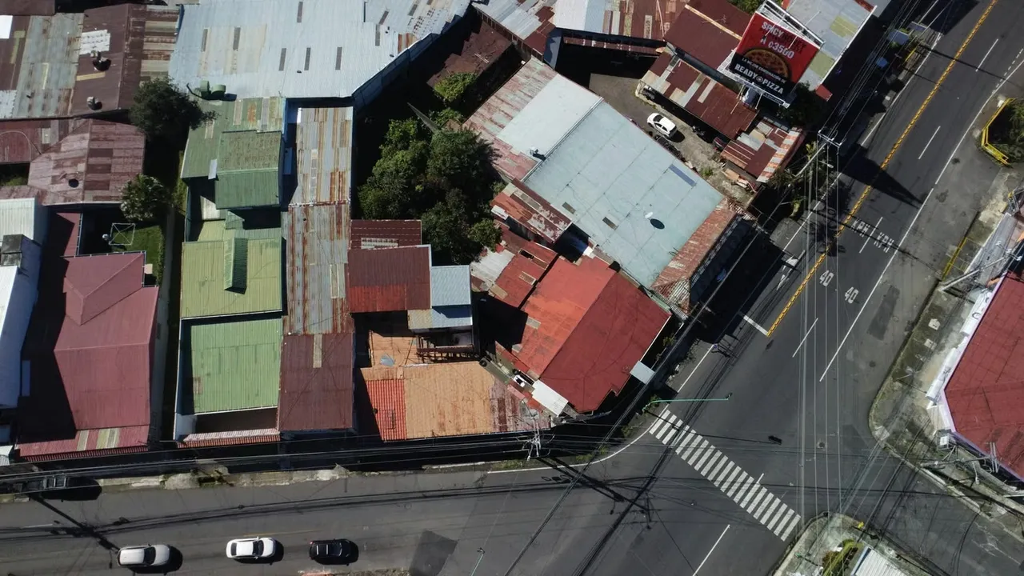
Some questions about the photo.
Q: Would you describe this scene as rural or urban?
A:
urban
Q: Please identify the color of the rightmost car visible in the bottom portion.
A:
black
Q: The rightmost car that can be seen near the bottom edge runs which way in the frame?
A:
from left to right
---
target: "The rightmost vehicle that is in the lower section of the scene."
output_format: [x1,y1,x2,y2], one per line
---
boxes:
[307,539,357,564]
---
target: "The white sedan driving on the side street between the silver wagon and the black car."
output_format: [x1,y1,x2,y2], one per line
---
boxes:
[225,536,277,561]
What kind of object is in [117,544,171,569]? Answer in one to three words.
car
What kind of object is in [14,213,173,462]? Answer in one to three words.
house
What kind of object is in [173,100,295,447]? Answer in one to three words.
house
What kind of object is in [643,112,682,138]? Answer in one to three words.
car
